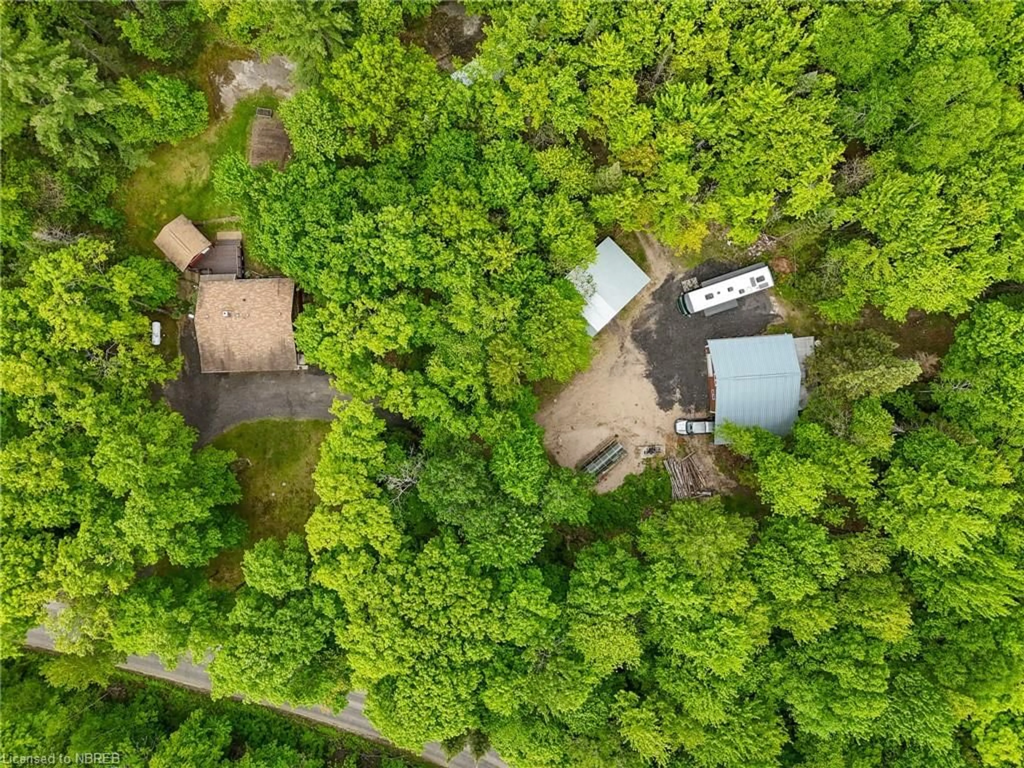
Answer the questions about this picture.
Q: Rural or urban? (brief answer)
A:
rural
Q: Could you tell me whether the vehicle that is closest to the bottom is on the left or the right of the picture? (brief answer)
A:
right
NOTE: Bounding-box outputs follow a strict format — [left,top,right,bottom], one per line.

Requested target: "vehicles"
[670,261,775,319]
[673,416,713,436]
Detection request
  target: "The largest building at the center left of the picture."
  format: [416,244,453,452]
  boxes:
[188,273,300,373]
